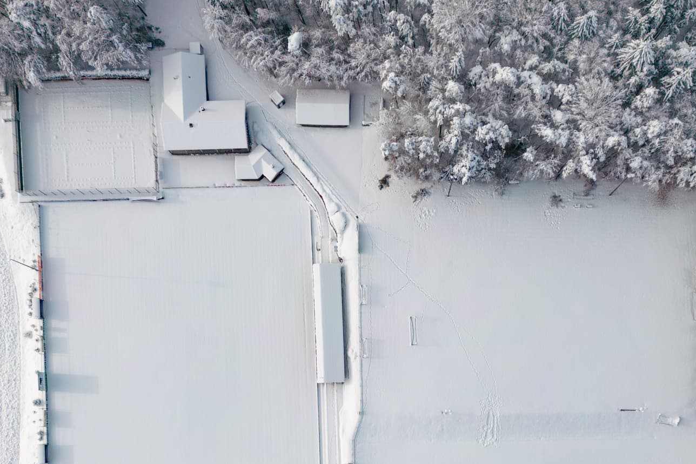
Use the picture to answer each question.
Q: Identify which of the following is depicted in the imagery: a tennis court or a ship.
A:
tennis court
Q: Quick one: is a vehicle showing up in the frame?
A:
No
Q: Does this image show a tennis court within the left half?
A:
Yes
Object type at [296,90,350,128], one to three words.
barn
